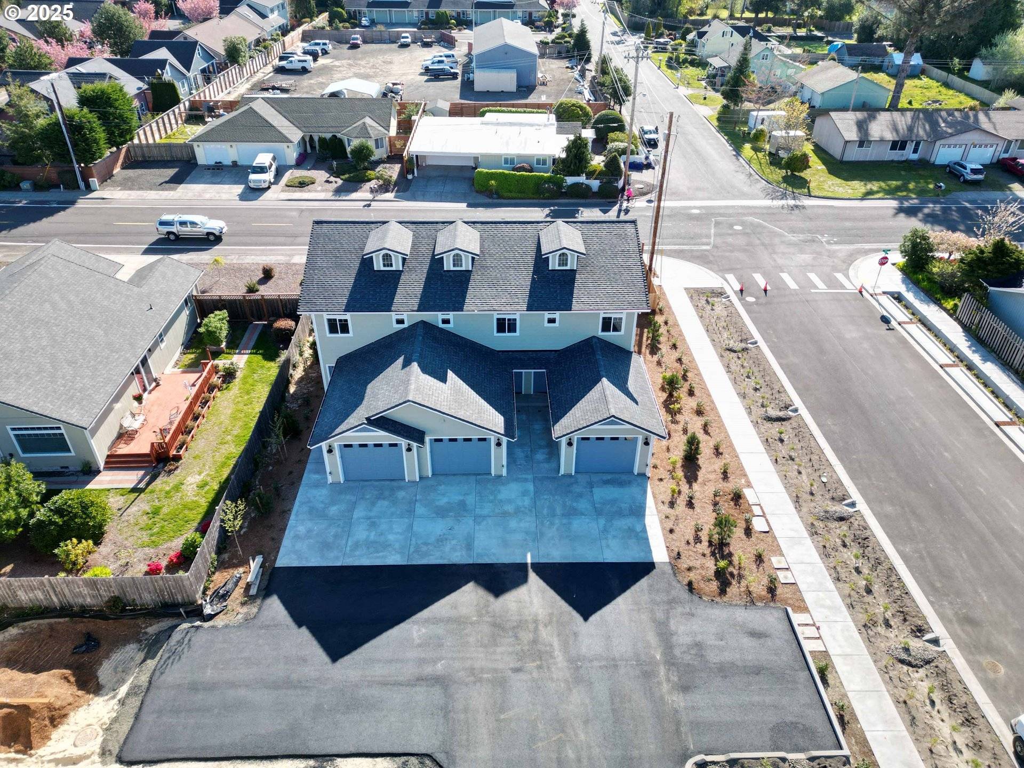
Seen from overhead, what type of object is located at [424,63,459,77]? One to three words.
vehicle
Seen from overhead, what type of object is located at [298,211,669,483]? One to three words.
house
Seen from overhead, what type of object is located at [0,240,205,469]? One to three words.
house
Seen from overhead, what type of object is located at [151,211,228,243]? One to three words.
truck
